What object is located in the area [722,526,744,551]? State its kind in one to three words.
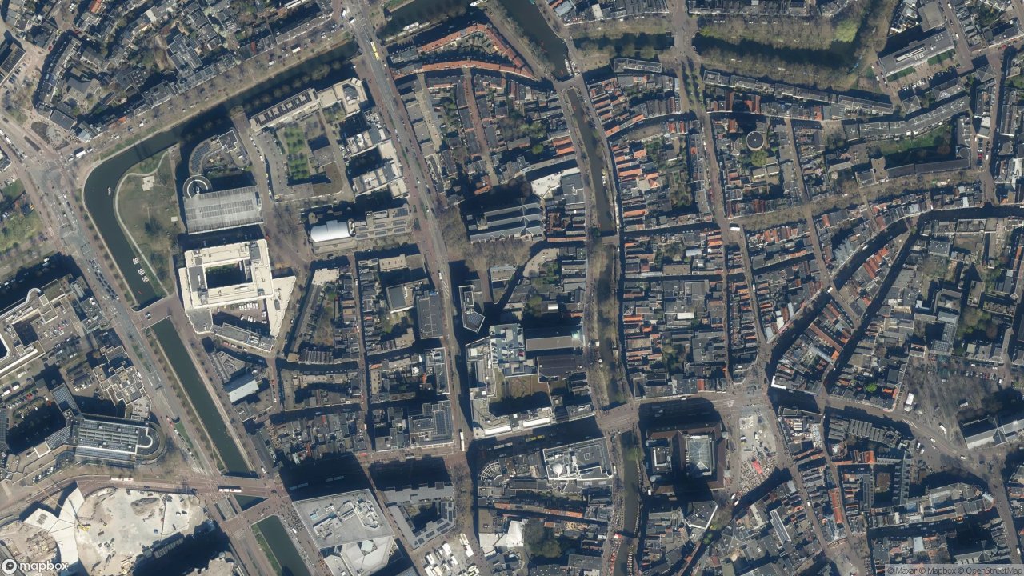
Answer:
house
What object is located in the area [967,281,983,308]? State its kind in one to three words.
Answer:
building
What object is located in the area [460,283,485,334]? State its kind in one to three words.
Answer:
building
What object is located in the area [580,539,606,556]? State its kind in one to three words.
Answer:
house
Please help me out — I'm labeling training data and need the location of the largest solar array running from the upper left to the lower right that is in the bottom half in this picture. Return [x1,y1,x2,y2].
[54,387,77,414]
